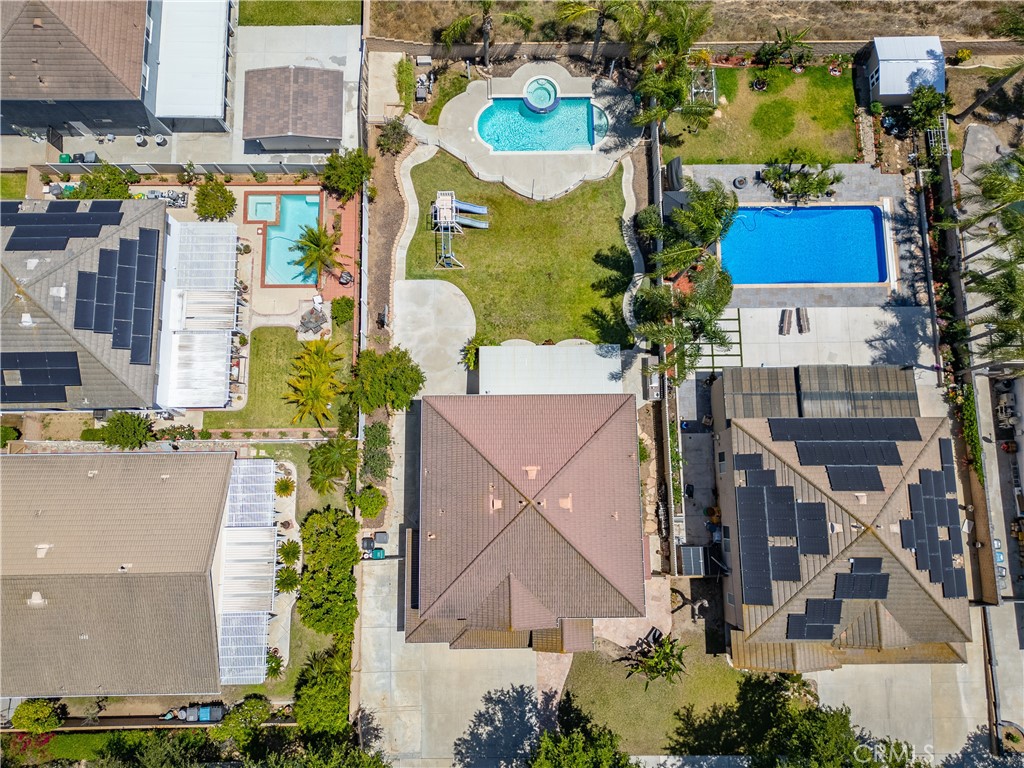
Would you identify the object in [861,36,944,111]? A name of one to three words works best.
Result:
shed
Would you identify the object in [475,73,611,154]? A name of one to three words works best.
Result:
swimming pool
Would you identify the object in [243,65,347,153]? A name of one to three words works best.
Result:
shed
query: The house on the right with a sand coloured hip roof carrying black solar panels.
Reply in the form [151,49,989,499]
[718,416,974,673]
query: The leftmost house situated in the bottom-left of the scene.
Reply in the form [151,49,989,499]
[0,451,235,699]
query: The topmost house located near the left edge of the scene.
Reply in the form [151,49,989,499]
[0,0,169,133]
